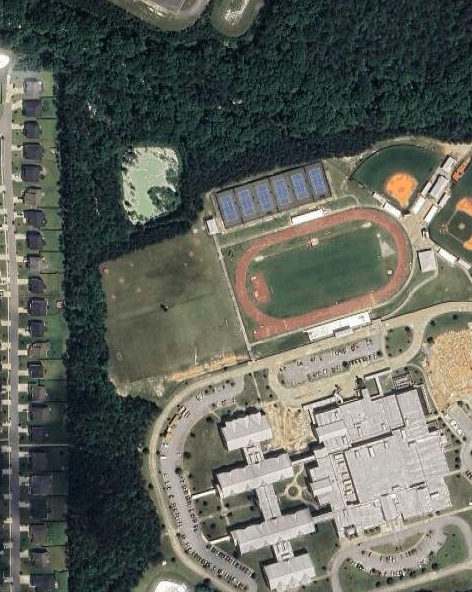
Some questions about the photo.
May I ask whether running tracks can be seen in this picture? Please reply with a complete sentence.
Yes, a running track is visible in the scene.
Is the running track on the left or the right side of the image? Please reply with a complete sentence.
You can find the running track on the right side of the picture.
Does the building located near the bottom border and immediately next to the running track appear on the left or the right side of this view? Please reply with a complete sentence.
It is on the right.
